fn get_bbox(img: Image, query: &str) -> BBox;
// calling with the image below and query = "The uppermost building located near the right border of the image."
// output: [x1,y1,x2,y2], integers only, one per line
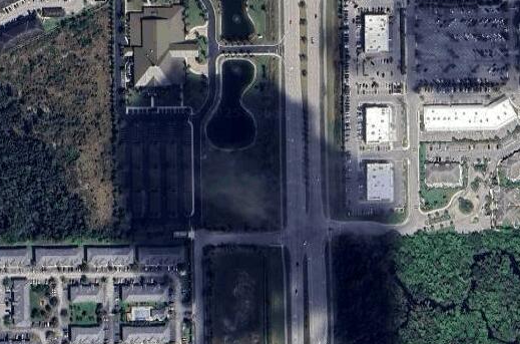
[424,97,519,130]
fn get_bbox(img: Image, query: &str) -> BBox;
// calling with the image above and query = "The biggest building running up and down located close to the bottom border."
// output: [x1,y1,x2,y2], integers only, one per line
[12,279,32,328]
